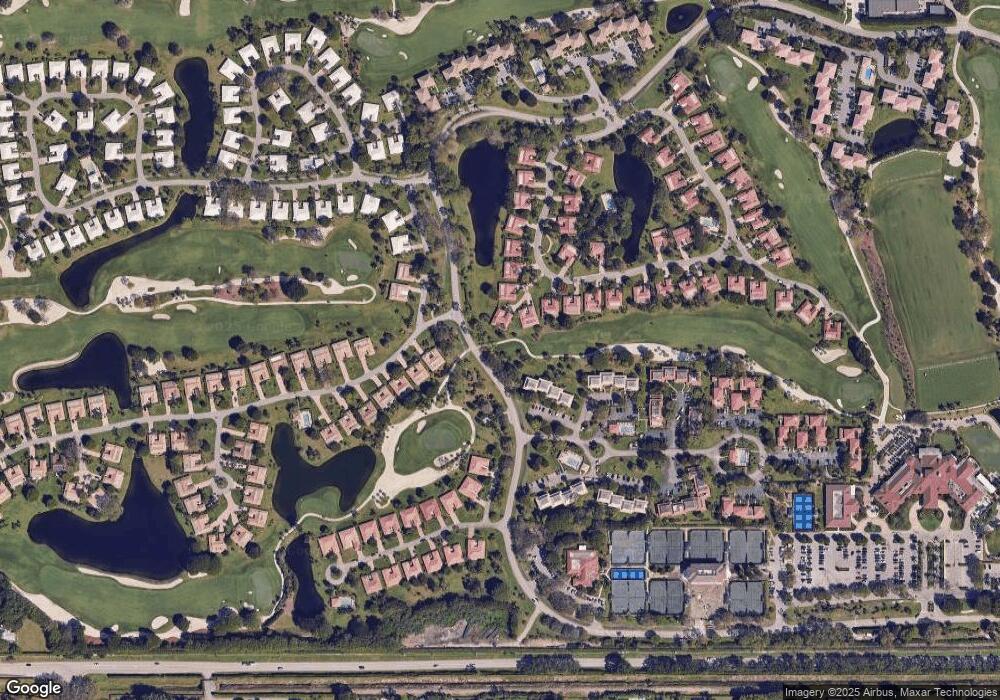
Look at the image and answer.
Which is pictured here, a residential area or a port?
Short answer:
residential area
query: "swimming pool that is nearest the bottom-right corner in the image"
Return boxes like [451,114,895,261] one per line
[736,447,749,466]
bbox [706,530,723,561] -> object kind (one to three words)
tennis court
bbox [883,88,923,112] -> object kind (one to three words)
building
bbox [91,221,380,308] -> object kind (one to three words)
golf course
